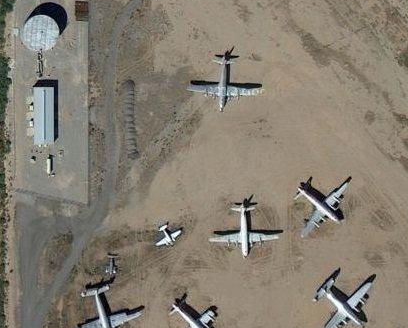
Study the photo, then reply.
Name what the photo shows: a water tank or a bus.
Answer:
water tank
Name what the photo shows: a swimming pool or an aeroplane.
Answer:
aeroplane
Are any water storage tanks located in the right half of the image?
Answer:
No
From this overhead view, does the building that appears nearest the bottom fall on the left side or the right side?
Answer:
left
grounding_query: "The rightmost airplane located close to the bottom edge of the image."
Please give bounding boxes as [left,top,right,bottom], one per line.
[315,279,374,328]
